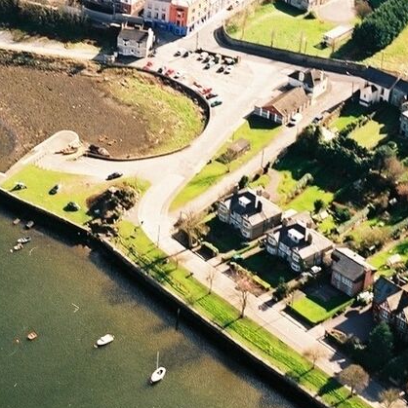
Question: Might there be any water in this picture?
Yes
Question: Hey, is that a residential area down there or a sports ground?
residential area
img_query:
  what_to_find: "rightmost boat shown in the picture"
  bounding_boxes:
[151,368,165,383]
